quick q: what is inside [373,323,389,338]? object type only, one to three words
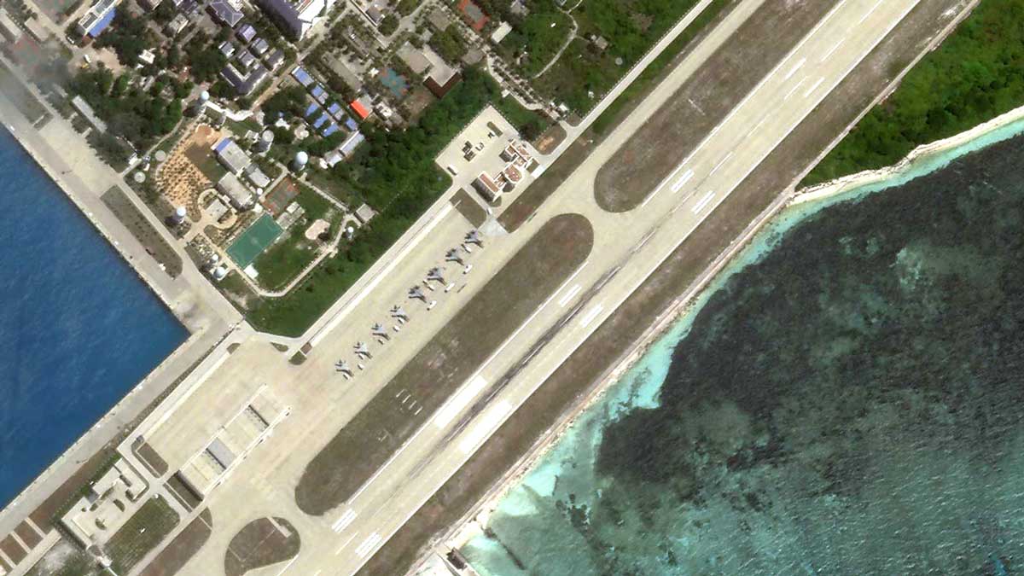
airplane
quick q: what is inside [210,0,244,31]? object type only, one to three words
building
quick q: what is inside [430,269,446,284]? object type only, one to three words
airplane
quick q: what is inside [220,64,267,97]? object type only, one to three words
house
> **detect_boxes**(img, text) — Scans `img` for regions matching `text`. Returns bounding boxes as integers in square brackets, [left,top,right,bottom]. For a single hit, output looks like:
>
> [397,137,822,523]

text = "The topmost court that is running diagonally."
[457,0,490,30]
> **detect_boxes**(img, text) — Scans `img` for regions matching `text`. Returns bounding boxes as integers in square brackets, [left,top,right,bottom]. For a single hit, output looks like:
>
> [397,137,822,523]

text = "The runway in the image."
[279,0,921,576]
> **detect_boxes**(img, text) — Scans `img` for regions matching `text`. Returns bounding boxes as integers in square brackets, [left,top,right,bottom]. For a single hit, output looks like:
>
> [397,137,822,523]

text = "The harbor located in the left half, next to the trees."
[0,50,244,541]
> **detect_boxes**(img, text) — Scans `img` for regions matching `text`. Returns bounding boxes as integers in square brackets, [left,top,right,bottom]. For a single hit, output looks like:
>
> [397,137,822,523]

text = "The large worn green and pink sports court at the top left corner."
[41,0,83,22]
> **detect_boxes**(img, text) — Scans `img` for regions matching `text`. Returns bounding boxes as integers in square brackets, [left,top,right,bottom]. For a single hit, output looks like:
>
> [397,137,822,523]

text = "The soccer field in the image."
[225,213,282,267]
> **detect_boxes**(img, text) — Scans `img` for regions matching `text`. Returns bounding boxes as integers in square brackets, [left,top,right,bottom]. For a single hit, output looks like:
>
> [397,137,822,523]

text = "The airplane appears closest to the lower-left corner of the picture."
[336,360,353,375]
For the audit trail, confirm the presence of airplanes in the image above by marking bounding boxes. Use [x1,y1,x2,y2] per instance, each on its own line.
[373,323,389,338]
[430,269,446,284]
[336,360,353,375]
[392,305,408,320]
[447,249,463,264]
[466,231,482,246]
[356,342,371,357]
[410,285,425,301]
